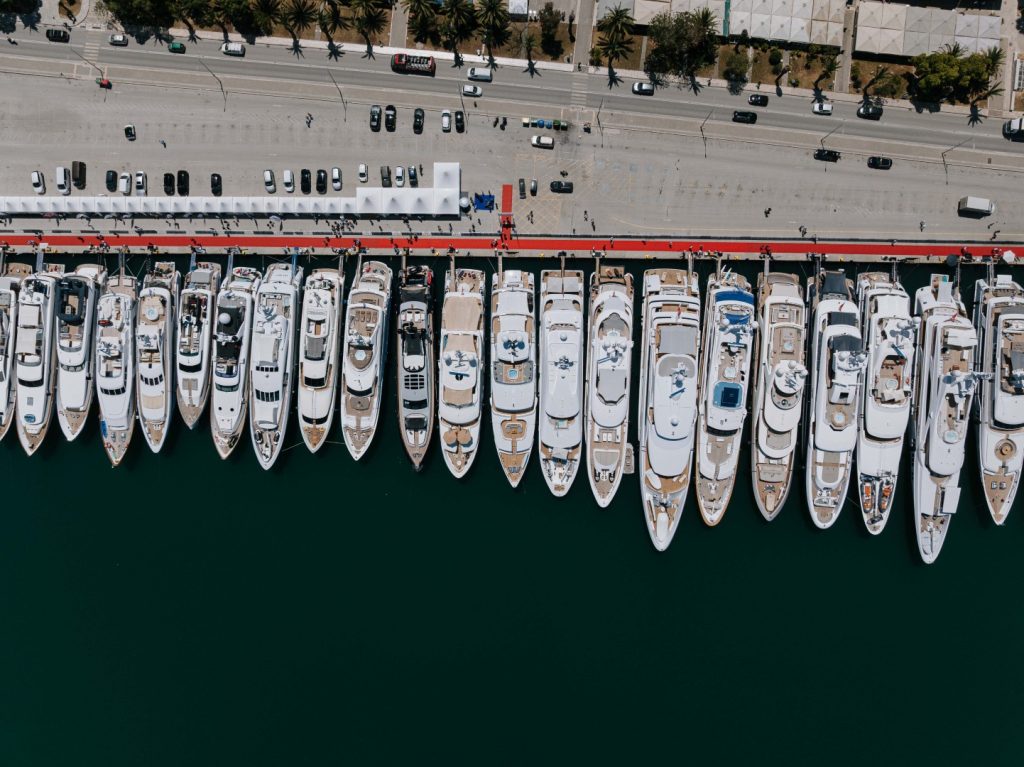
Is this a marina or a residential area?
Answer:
marina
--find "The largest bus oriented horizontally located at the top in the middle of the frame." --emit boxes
[388,53,435,77]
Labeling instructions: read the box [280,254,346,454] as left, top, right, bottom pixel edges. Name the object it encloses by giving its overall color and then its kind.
white boat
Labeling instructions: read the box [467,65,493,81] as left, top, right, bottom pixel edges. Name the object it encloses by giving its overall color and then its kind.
white vehicle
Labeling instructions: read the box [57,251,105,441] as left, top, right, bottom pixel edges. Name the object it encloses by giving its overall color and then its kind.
white boat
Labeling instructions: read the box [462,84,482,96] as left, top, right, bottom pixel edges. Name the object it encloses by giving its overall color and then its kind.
white vehicle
